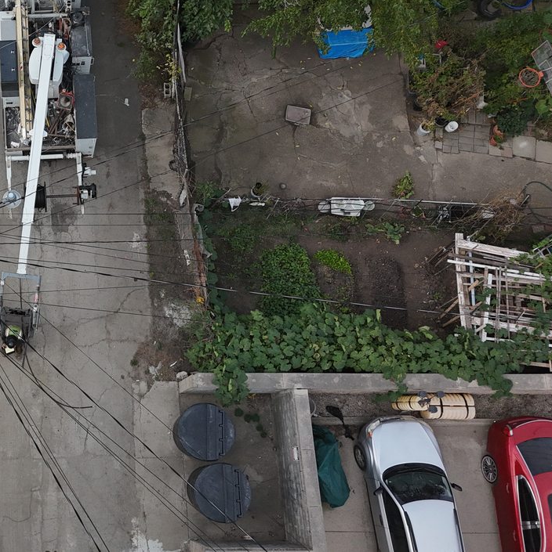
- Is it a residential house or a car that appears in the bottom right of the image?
car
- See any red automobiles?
Yes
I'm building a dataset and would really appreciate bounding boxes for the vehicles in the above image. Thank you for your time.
[0,0,98,374]
[482,415,552,552]
[356,415,473,552]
